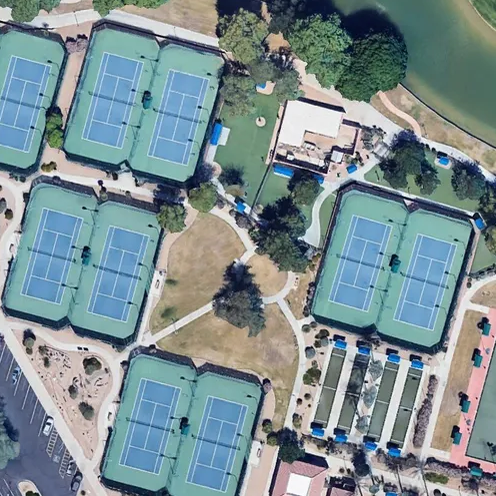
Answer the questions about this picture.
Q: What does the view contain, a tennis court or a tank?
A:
tennis court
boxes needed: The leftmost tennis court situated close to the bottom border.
[102,352,198,496]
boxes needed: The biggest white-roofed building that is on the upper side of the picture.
[271,100,358,179]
